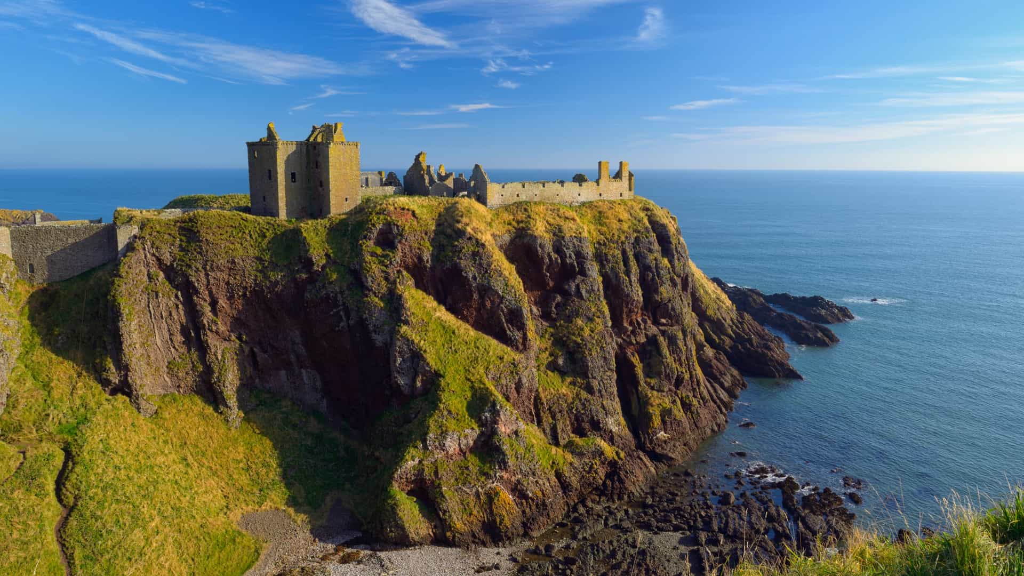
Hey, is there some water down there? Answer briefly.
Yes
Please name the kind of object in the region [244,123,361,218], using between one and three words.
building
